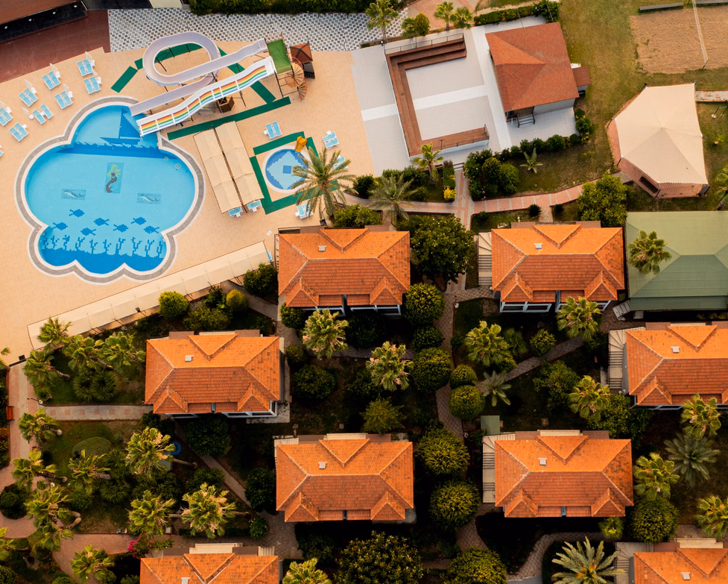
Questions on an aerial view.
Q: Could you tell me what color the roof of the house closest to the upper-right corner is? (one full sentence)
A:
The roof over the house closest to the upper-right corner appears orange.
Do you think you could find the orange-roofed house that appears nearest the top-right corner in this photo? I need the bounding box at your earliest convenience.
[486,22,591,140]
